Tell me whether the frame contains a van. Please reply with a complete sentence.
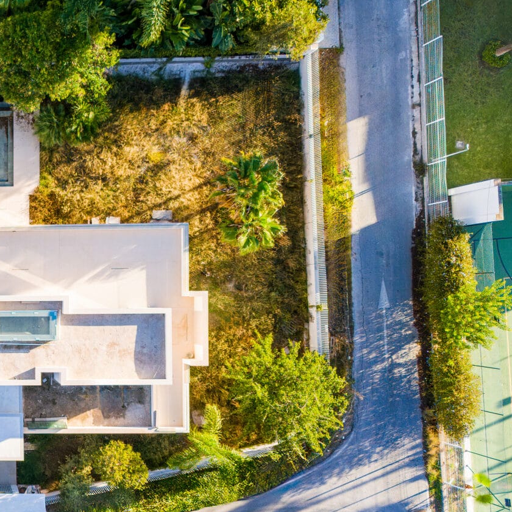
No, I can see no van in this picture.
